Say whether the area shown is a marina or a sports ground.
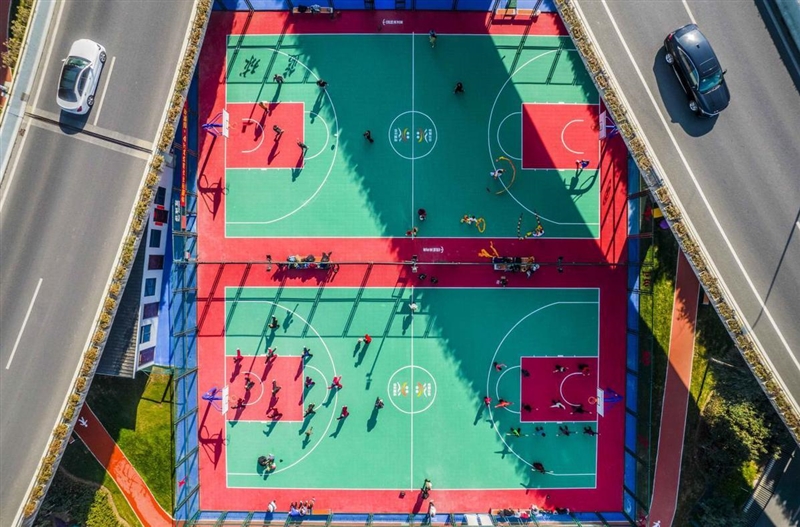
sports ground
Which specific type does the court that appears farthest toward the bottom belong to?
basketball court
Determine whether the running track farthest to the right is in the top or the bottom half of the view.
bottom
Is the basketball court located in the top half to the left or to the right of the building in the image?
on the right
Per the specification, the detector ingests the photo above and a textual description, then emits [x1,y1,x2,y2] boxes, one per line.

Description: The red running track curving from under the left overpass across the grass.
[73,401,642,527]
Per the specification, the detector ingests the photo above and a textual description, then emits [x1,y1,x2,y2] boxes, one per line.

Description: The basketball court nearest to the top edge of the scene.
[224,31,601,242]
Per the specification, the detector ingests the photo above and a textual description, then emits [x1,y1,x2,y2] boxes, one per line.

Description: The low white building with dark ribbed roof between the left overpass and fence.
[94,155,172,379]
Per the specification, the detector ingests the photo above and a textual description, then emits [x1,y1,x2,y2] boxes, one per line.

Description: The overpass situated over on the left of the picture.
[0,0,216,527]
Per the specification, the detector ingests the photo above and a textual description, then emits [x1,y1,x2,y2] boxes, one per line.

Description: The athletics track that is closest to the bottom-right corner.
[647,247,700,527]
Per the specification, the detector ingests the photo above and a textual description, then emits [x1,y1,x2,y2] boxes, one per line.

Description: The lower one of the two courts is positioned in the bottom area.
[224,283,599,493]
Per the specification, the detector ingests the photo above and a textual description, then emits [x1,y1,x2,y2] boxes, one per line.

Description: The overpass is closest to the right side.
[548,0,800,451]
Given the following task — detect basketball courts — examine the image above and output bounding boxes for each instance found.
[224,283,599,493]
[224,31,601,242]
